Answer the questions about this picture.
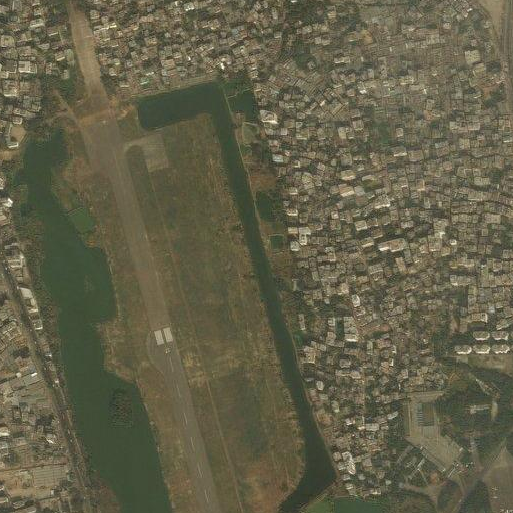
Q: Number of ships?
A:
0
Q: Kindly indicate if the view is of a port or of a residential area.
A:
residential area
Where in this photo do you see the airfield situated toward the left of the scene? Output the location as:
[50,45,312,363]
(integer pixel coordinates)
[52,0,305,513]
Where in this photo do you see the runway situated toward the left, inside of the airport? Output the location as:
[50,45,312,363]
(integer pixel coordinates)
[83,119,218,513]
